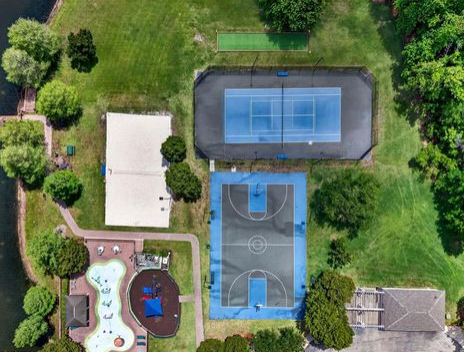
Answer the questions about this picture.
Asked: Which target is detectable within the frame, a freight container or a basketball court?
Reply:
basketball court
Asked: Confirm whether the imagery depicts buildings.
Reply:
Yes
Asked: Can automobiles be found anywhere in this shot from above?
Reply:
No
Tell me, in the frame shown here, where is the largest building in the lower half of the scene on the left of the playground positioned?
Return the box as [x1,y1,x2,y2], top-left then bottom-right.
[66,292,91,326]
